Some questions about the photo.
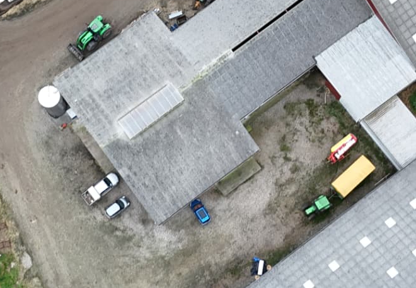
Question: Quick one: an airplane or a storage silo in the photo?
storage silo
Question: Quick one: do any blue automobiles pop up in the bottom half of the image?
Yes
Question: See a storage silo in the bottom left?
No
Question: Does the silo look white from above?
Yes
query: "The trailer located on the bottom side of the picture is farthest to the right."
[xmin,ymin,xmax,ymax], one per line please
[326,155,375,201]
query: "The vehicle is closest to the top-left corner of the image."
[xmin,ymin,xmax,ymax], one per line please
[67,17,111,60]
